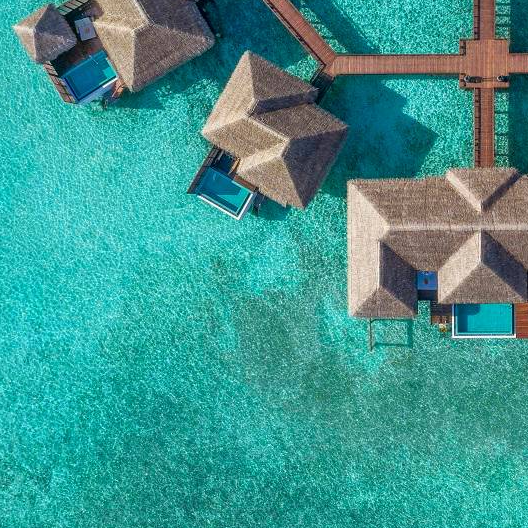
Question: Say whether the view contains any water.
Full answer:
Yes, some water is visible.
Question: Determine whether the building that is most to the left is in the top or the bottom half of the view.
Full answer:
Seen from above, the building that is most to the left lies in the top half of the view.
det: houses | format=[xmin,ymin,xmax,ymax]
[346,168,528,319]
[202,50,350,209]
[93,0,217,91]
